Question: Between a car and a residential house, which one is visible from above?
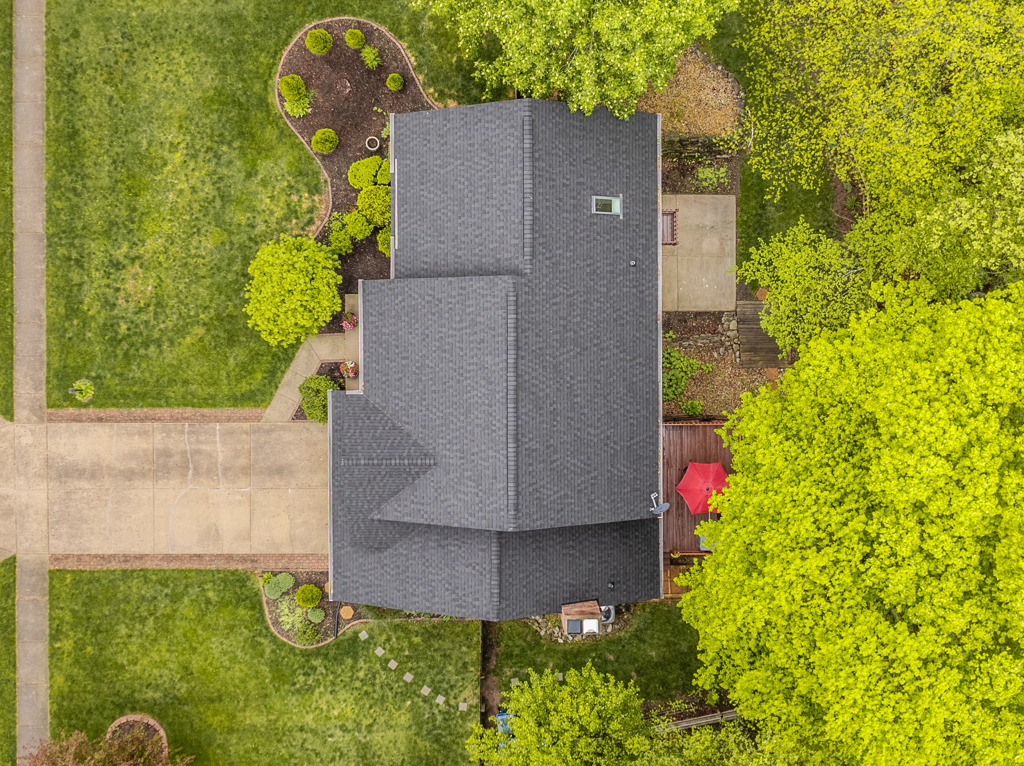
residential house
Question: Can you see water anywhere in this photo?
No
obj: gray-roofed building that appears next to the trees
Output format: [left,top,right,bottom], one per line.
[329,98,663,635]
